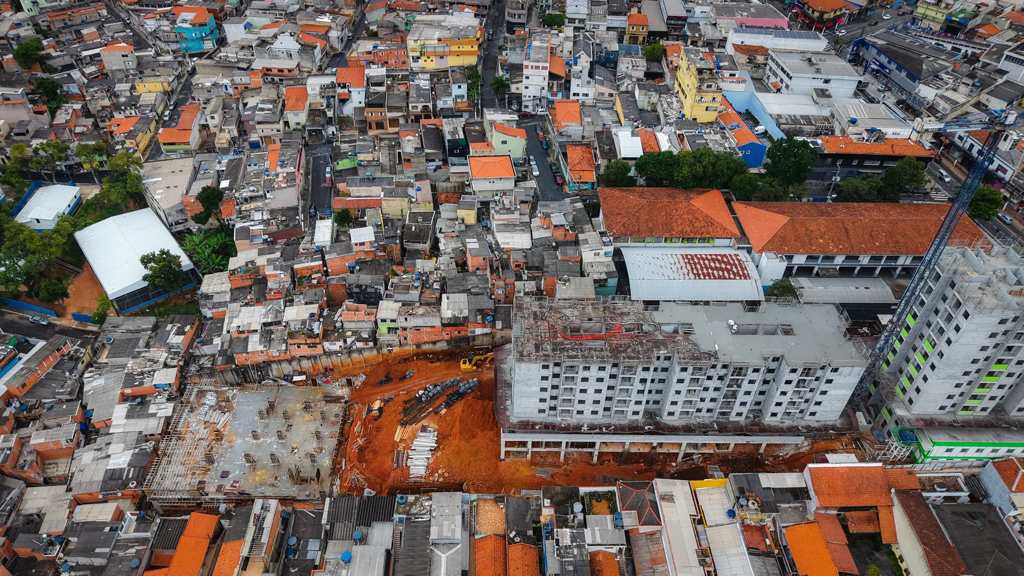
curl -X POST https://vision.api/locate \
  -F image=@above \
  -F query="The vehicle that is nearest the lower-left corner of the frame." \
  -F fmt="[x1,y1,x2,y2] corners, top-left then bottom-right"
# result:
[24,312,51,325]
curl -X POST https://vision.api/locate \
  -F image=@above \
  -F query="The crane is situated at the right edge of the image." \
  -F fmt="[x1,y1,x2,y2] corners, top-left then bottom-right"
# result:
[852,84,1024,415]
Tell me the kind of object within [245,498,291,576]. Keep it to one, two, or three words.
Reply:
house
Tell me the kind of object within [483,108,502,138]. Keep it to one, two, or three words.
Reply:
house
